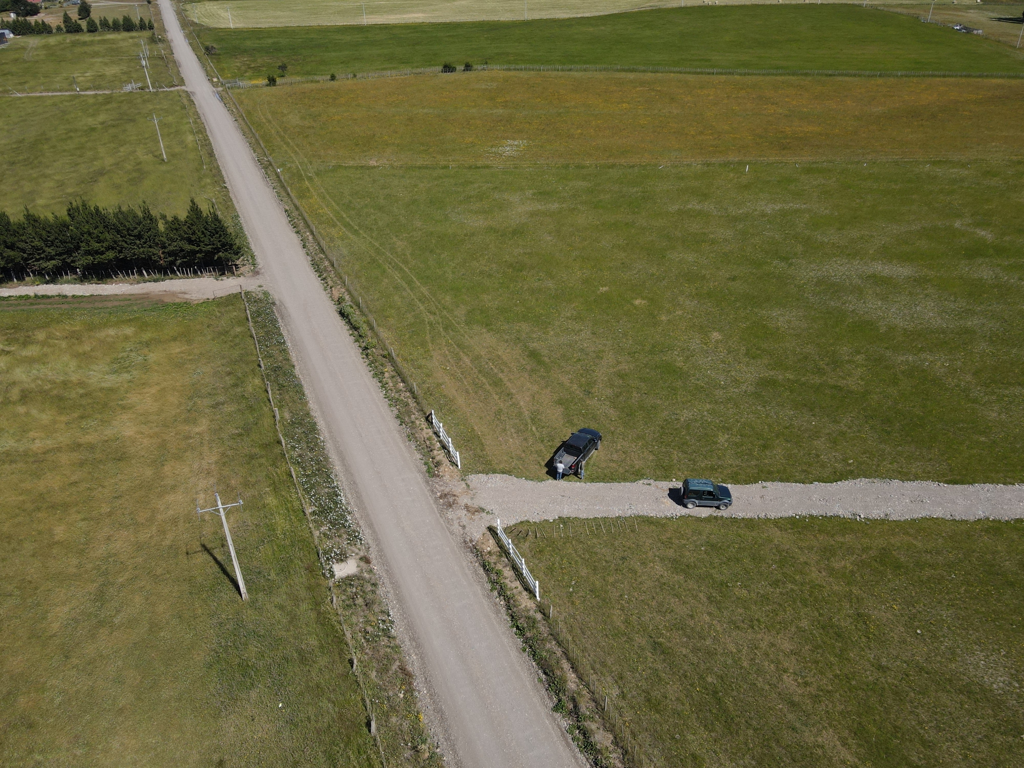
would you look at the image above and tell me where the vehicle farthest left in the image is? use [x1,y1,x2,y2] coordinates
[553,429,602,472]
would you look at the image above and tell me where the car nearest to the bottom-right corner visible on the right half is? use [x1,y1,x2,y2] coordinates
[680,478,734,510]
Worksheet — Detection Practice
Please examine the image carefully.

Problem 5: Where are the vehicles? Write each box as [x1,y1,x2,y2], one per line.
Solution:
[680,478,734,510]
[553,429,602,472]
